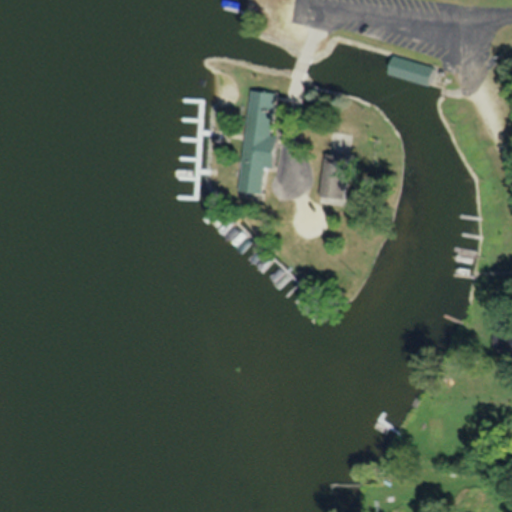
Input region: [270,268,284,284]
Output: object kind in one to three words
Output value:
boat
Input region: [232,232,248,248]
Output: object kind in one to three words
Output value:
boat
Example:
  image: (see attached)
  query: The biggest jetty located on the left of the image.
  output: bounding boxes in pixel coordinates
[176,98,210,202]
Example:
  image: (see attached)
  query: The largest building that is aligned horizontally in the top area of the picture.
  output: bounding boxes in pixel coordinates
[387,56,434,86]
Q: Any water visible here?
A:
Yes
